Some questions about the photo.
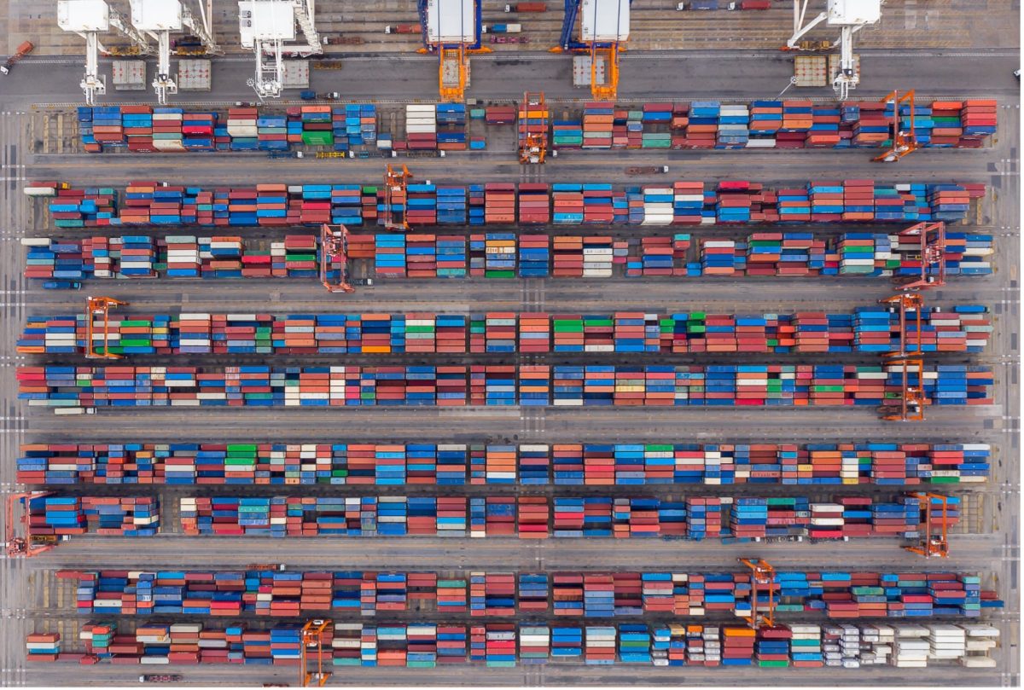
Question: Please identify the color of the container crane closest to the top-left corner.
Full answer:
The container crane closest to the top-left corner looks white in the image.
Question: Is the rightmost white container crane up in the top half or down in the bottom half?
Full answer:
You can find the rightmost white container crane in the top half.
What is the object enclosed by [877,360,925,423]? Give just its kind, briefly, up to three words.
container crane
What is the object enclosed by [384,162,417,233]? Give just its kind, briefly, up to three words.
container crane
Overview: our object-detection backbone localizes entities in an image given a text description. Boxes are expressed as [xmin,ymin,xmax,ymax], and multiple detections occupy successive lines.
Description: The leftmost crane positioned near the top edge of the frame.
[57,0,157,106]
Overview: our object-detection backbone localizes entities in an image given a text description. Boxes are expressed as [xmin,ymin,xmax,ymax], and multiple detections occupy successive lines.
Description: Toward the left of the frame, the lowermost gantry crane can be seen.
[301,618,338,690]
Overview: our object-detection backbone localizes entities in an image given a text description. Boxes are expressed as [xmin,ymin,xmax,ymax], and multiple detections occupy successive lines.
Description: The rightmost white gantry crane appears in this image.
[778,0,879,103]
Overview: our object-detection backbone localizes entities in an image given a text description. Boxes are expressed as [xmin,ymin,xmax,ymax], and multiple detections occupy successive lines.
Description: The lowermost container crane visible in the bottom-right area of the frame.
[734,556,774,626]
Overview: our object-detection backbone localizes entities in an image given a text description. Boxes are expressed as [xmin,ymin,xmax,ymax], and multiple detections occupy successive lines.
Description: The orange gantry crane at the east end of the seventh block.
[899,490,948,557]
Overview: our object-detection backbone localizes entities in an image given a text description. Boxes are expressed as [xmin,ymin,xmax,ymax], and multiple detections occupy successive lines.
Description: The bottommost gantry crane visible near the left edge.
[5,490,58,557]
